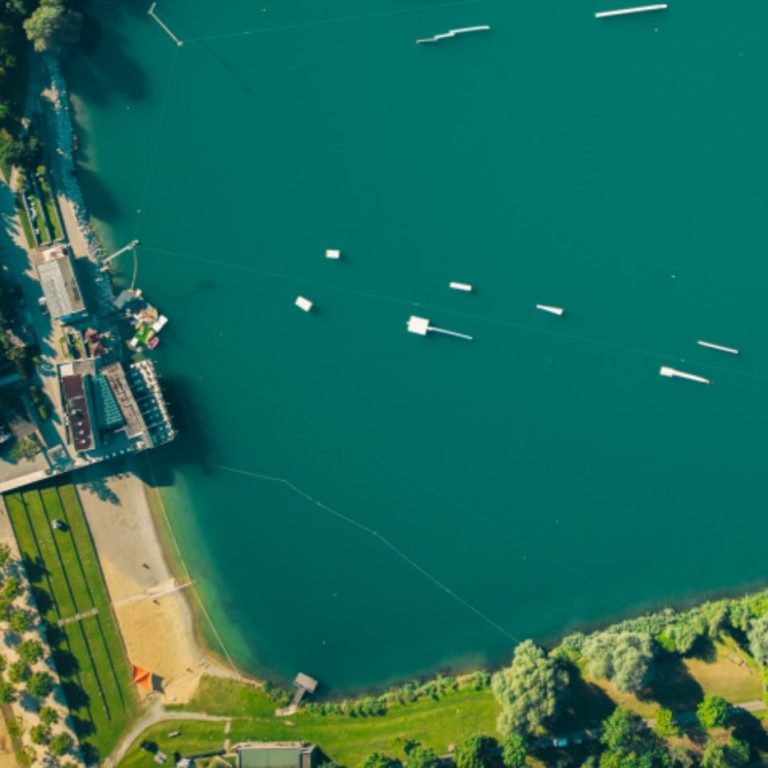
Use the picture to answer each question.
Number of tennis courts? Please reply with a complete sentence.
I count no tennis courts.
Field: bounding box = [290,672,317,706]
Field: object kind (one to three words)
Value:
pier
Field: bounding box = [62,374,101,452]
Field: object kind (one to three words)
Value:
building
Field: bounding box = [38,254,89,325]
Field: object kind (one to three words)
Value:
building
